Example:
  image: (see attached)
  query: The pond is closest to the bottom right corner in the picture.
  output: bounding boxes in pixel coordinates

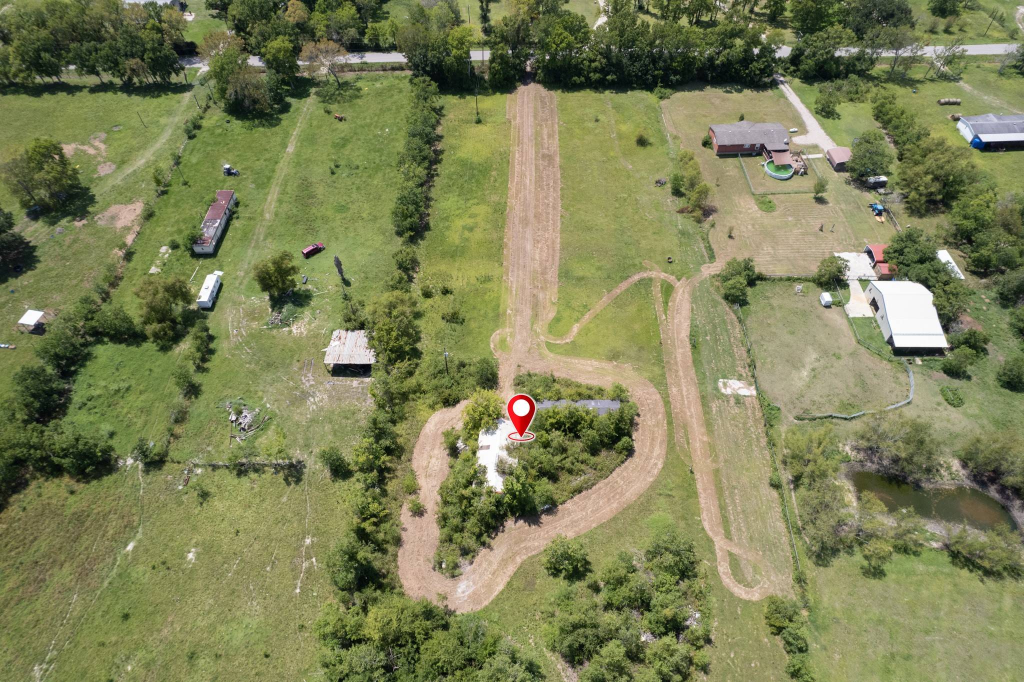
[846,470,1020,534]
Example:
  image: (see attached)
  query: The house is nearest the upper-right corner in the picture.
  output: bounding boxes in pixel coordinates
[960,110,1024,148]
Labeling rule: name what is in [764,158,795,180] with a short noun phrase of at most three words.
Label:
swimming pool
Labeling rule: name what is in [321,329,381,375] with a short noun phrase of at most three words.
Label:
shed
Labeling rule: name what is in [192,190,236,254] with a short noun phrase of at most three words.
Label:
house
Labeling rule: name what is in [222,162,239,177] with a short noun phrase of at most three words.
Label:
work vehicle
